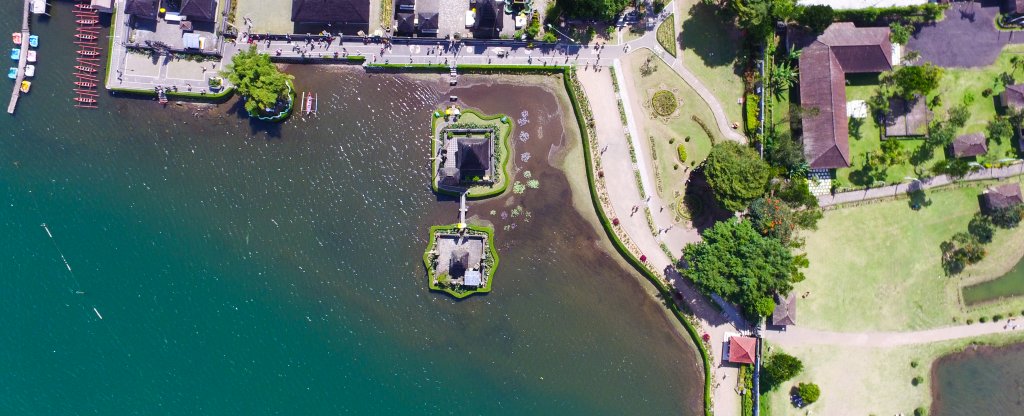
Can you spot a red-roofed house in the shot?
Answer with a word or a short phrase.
Yes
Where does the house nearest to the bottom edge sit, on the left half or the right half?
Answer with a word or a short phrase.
right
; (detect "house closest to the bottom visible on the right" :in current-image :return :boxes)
[728,336,756,363]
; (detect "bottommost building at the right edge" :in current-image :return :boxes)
[976,184,1024,217]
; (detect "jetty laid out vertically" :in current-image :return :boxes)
[6,0,29,112]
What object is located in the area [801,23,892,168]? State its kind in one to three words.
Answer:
house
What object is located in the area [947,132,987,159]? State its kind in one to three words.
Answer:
house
